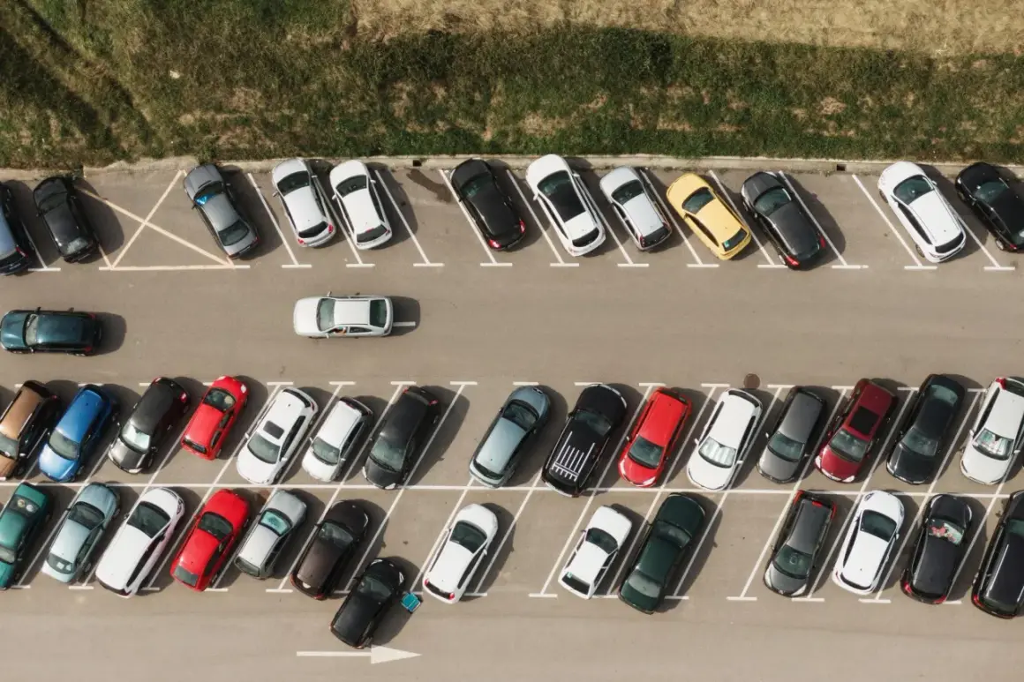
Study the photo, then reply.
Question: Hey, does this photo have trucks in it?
No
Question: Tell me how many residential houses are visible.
0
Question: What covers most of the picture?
paved ground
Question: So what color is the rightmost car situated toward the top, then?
black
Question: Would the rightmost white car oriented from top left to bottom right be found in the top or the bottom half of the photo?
top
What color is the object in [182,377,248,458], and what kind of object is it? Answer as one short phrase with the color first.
red car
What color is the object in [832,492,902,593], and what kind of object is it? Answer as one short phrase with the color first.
white car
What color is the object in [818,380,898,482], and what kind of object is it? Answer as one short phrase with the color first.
red car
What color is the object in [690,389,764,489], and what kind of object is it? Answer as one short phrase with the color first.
white car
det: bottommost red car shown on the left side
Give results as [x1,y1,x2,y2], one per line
[169,490,243,589]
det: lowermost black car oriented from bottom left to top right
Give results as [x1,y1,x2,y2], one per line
[330,559,401,648]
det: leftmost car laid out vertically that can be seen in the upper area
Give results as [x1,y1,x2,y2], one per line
[0,199,30,272]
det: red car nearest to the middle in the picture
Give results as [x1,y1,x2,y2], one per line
[622,389,692,486]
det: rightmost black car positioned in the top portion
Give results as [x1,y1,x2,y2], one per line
[957,162,1024,256]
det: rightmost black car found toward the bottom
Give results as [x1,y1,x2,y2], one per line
[974,495,1024,616]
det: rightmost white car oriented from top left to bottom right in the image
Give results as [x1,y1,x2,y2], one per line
[880,162,966,262]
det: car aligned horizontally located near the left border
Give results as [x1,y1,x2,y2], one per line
[0,307,102,358]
